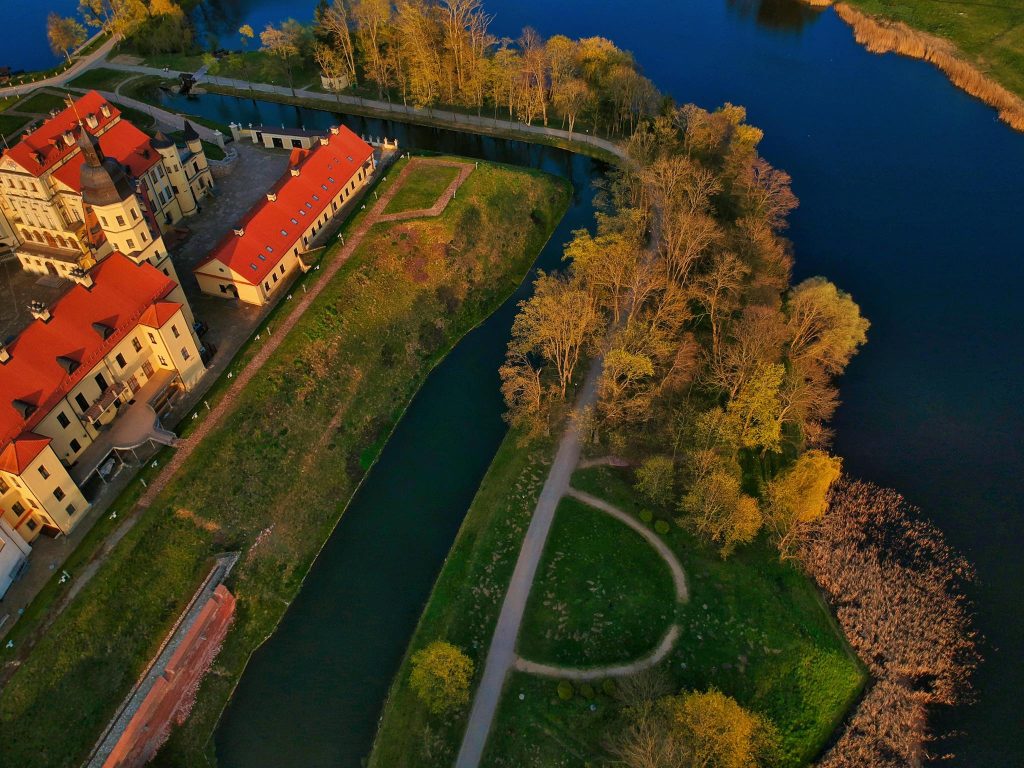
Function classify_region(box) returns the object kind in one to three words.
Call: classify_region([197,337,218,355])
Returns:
car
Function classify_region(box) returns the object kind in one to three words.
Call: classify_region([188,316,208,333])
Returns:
car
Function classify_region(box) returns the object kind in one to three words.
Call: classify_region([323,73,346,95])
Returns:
building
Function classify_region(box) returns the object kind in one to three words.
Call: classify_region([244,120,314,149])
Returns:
shed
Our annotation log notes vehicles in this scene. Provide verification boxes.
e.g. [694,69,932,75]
[188,316,208,333]
[197,337,218,355]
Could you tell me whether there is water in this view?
Yes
